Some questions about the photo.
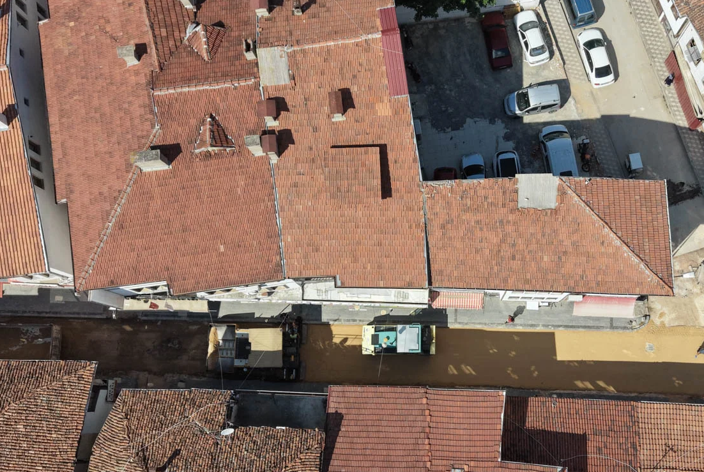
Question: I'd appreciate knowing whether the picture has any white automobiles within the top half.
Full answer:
Yes, within the top half there is a white automobile.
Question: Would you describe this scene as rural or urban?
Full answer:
This place is urban.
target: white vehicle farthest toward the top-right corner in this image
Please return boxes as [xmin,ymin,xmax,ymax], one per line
[577,28,615,90]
